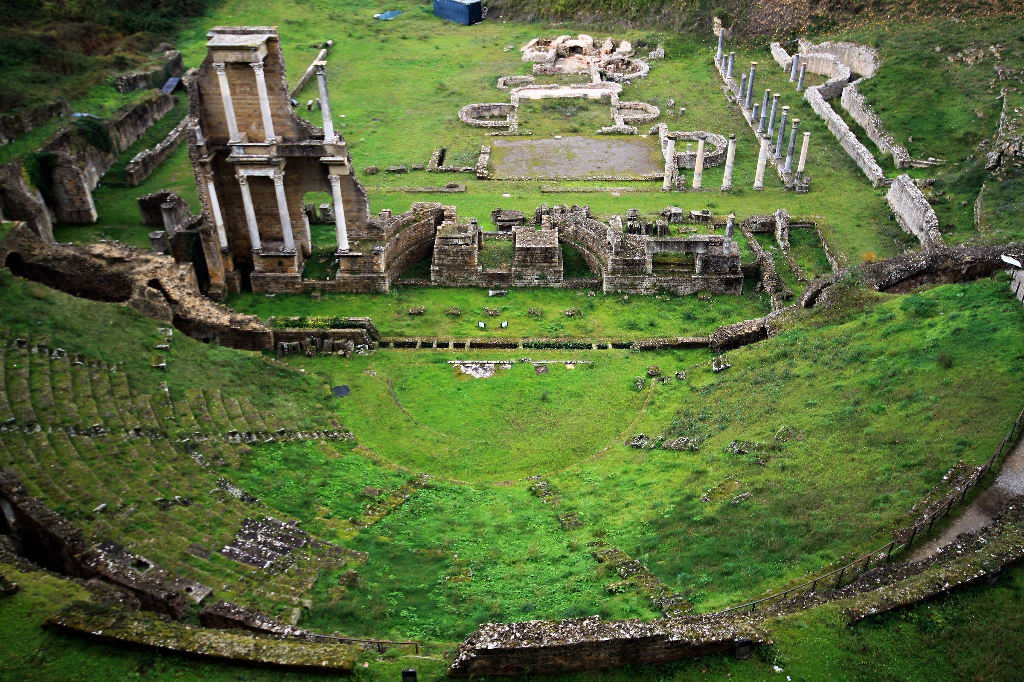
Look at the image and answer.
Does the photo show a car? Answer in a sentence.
No, the picture doesn't show any car.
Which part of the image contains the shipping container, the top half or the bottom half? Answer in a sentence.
The top half of the photo is where the shipping container is.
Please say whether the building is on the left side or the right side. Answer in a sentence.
The building appears in the left half of the scene.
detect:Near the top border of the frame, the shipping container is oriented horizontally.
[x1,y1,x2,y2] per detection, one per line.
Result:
[429,0,482,25]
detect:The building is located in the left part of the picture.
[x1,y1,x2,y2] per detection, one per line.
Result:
[181,19,387,292]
